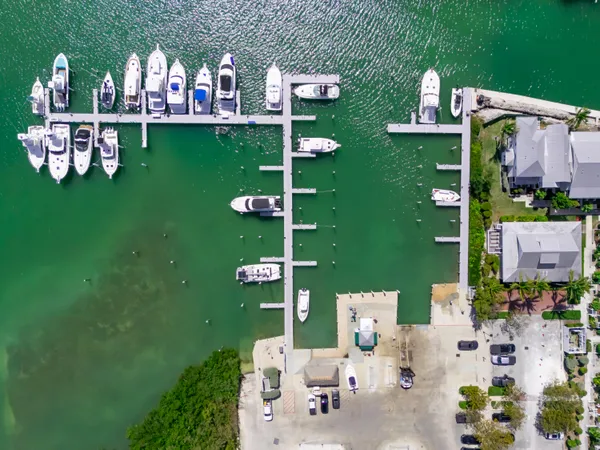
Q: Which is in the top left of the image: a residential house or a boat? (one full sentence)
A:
The feature located in the top left of the image is a boat.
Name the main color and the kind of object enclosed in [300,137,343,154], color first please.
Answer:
white boat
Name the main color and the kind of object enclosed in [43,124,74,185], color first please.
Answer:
white boat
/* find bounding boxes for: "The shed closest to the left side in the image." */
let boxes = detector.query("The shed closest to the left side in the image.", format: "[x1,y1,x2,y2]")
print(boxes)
[304,363,339,387]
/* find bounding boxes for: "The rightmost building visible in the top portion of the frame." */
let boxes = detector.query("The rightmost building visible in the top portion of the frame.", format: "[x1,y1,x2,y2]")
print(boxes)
[557,133,600,200]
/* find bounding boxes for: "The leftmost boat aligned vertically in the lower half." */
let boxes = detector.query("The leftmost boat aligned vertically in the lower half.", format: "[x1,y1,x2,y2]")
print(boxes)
[297,287,310,323]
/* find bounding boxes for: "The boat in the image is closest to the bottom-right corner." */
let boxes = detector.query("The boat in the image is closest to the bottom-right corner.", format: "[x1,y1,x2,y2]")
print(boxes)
[343,361,359,394]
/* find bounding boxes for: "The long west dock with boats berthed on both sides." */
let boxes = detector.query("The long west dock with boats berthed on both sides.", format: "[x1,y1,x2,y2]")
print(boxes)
[45,88,283,148]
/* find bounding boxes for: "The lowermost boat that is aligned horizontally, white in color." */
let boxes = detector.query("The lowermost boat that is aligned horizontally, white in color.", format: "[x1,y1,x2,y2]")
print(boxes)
[237,262,282,282]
